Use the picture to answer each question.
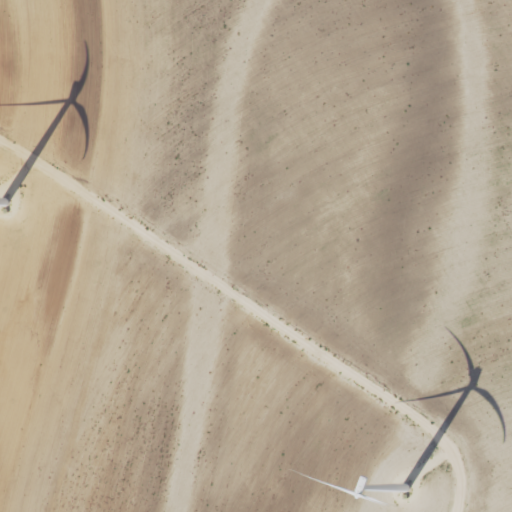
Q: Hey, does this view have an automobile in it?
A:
No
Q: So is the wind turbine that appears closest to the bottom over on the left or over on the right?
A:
right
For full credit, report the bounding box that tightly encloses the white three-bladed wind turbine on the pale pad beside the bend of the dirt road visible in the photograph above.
[294,474,412,512]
